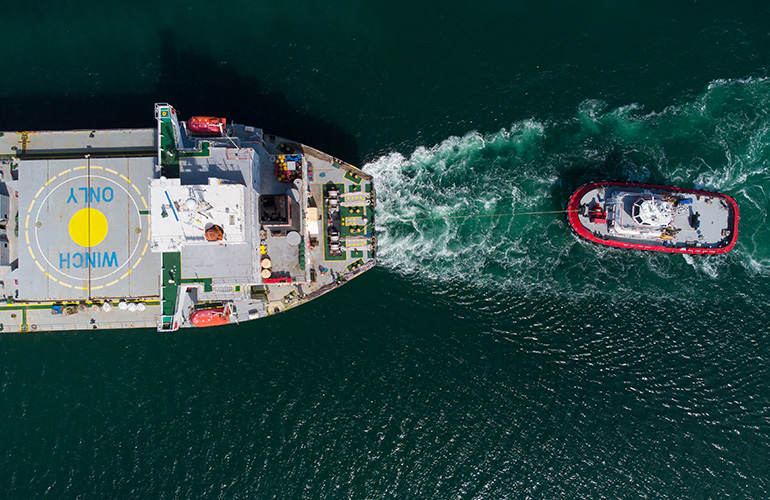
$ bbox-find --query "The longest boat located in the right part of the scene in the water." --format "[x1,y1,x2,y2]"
[563,181,739,254]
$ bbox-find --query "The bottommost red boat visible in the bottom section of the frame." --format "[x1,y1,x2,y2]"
[192,307,235,328]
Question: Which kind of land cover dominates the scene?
water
